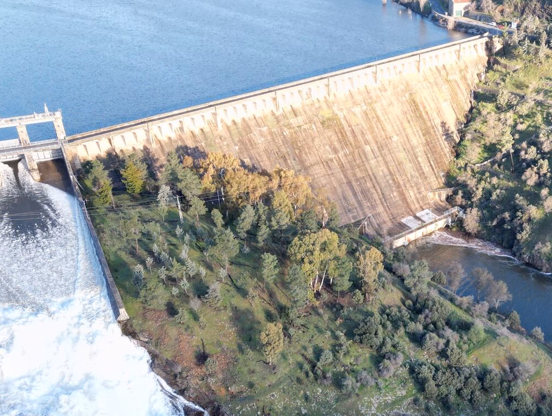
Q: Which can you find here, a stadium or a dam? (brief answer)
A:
dam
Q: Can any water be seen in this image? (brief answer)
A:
Yes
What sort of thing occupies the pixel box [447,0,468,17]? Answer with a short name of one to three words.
house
